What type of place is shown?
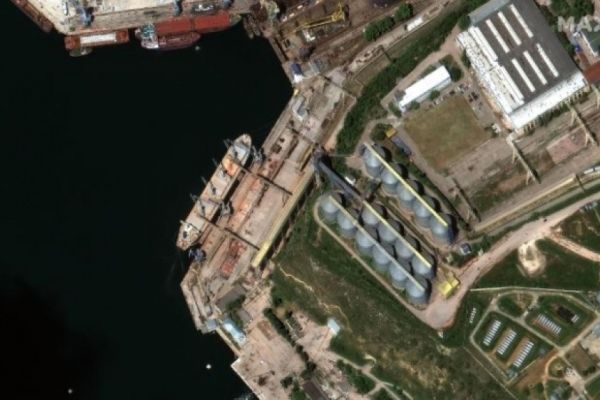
port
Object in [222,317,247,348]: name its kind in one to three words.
building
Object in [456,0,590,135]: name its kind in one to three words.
building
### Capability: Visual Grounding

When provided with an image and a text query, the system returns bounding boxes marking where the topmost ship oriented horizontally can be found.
[141,11,241,37]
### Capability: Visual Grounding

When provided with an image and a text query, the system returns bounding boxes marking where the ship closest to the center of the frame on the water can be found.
[178,131,254,251]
